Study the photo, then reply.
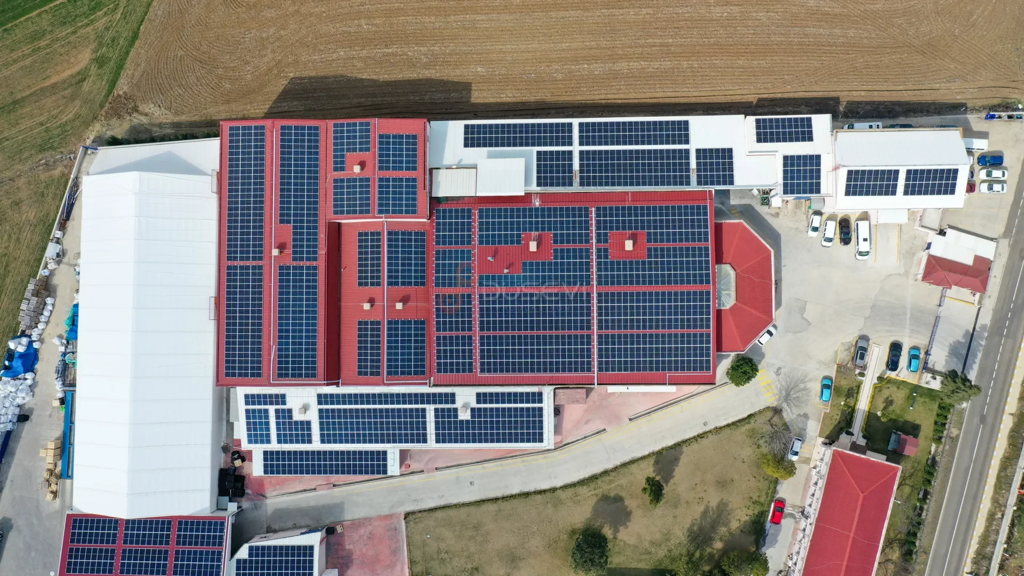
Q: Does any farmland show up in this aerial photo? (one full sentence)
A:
Yes, there's farmland in this view.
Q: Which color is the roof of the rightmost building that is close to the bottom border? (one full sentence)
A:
The roof over the rightmost building that is close to the bottom border appears red.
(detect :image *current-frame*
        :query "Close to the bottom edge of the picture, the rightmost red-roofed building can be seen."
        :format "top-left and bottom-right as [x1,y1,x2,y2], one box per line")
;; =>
[778,447,901,576]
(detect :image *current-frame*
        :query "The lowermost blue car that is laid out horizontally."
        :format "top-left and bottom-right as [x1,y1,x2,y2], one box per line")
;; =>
[976,153,1005,165]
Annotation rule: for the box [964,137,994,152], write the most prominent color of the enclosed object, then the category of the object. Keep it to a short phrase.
white vehicle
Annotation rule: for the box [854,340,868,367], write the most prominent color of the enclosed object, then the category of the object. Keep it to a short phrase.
gray car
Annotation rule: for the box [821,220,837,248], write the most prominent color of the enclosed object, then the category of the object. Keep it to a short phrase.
white car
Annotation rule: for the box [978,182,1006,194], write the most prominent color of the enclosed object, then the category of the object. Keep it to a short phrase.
white vehicle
